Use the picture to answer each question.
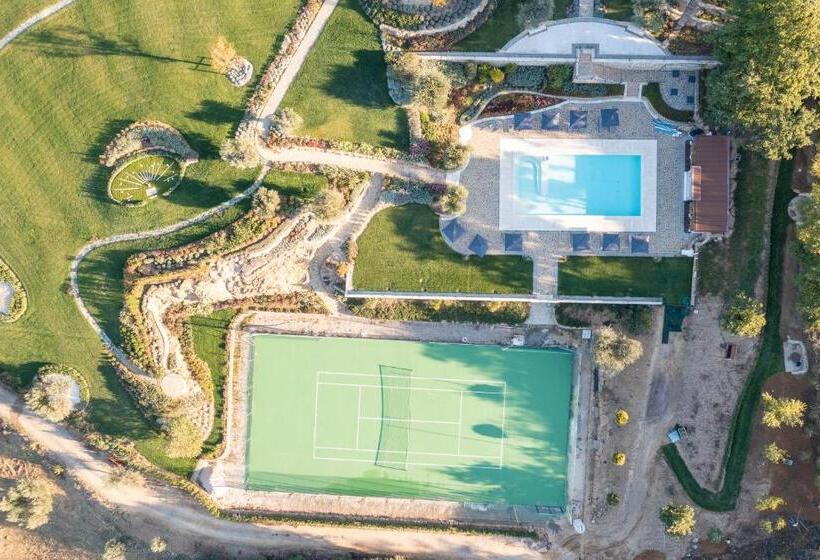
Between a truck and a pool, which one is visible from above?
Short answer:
pool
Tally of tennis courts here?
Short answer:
1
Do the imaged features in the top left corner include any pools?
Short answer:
No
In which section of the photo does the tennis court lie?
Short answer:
bottom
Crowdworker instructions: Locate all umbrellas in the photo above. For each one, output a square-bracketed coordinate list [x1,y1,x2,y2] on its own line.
[600,232,620,252]
[629,233,649,252]
[503,232,522,252]
[465,232,490,256]
[540,110,560,130]
[440,217,466,244]
[570,232,589,251]
[568,110,587,129]
[599,108,618,127]
[512,111,531,130]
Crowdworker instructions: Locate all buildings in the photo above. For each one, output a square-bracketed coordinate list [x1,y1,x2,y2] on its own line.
[680,136,732,234]
[670,425,689,445]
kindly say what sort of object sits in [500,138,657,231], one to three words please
swimming pool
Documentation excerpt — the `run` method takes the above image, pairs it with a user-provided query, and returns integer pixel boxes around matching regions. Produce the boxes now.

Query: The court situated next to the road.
[246,335,574,507]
